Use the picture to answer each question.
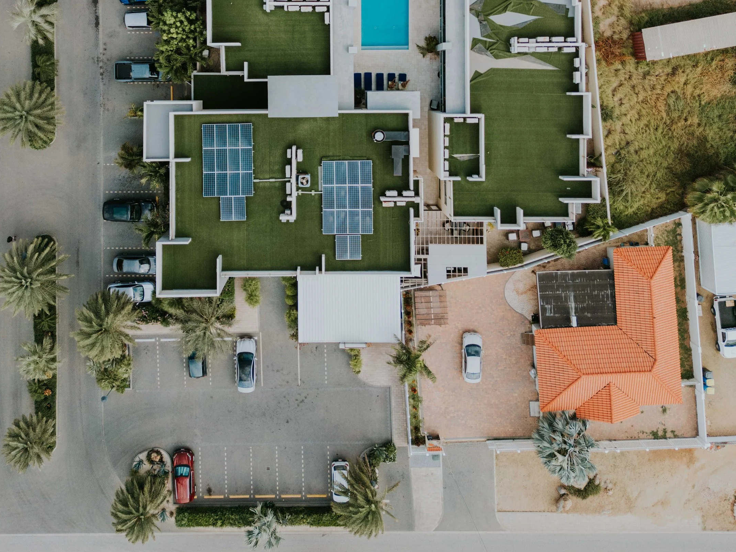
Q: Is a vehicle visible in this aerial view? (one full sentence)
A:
Yes, looking at the shot, I can spot a vehicle.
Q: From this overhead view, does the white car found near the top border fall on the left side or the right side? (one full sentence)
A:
The white car found near the top border sits on the left side.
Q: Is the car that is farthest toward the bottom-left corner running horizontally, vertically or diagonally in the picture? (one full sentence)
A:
The car that is farthest toward the bottom-left corner runs vertically in the image.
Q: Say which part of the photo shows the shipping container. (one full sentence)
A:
Look in the top right portion of the view to spot the shipping container.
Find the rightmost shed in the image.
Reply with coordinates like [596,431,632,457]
[696,215,736,295]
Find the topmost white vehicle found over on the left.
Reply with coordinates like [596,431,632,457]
[126,10,149,30]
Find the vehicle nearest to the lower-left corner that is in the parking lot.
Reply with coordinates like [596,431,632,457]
[170,447,196,503]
